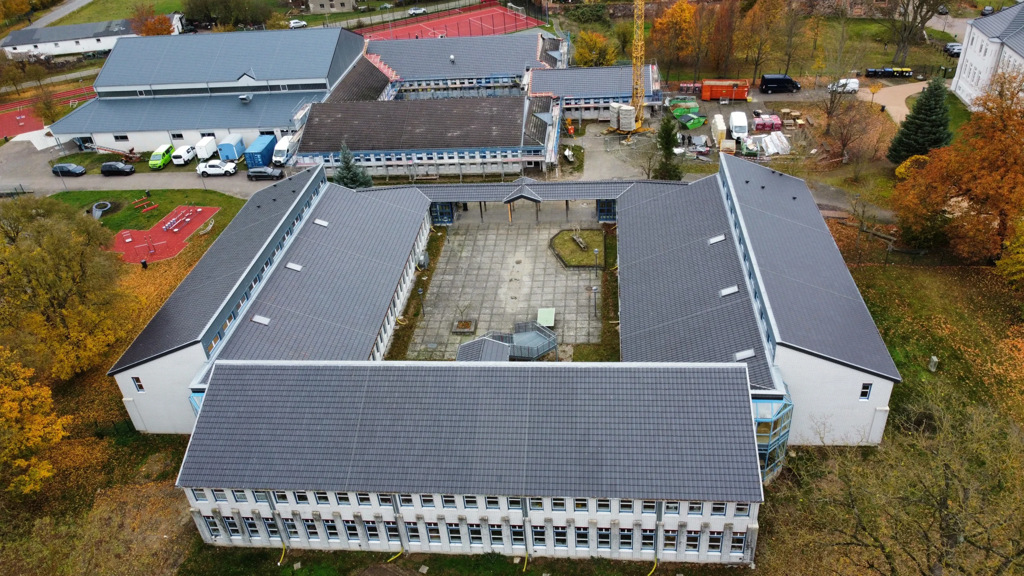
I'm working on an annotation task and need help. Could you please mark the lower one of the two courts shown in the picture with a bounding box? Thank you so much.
[0,106,43,140]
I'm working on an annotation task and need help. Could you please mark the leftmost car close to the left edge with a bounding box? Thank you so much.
[46,159,87,175]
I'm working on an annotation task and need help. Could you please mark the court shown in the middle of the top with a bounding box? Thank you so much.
[362,5,547,44]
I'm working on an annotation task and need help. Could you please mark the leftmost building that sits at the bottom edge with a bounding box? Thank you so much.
[174,359,767,568]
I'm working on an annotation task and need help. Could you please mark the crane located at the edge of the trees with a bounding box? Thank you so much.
[608,0,668,141]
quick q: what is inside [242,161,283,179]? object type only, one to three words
car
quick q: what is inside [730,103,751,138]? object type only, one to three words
vehicle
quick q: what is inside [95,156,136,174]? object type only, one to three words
car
